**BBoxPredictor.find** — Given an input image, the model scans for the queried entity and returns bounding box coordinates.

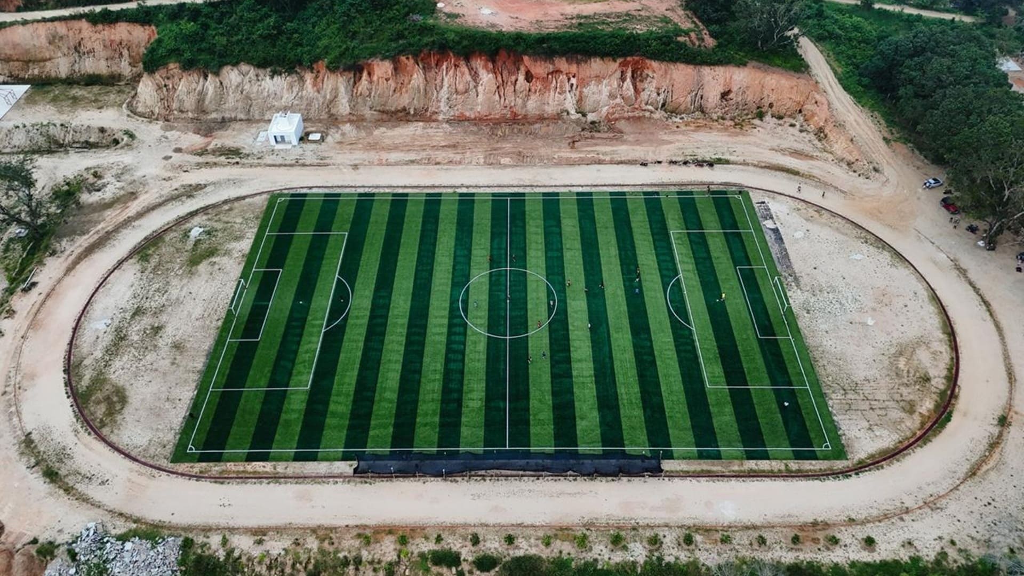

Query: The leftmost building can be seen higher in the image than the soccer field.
[269,111,306,142]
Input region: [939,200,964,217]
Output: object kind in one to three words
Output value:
vehicle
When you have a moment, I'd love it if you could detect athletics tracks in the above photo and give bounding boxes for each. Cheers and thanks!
[11,161,1012,532]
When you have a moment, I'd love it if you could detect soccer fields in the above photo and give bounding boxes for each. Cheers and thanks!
[168,191,846,462]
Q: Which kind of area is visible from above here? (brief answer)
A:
sports ground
